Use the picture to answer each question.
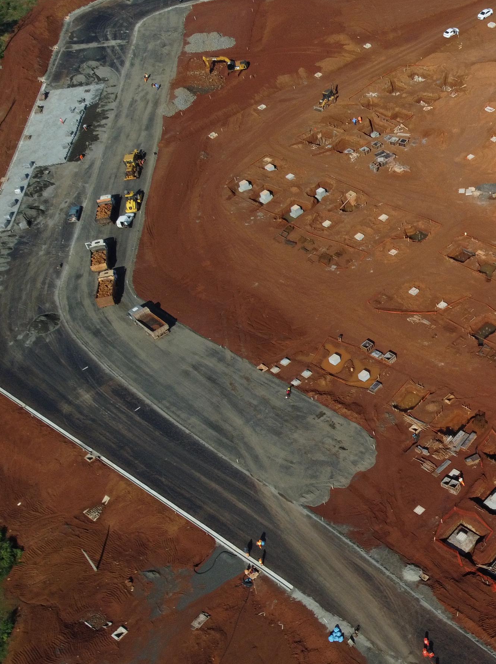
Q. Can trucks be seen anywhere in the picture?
Yes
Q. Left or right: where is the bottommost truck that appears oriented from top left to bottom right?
left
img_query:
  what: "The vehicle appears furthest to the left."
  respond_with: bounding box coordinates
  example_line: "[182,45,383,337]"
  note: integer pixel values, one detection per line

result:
[66,206,82,223]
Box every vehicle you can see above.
[132,307,171,343]
[441,26,460,36]
[114,208,139,228]
[97,271,118,310]
[85,242,111,277]
[312,86,338,114]
[126,151,143,182]
[66,206,82,223]
[96,197,116,231]
[124,188,139,212]
[476,9,494,20]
